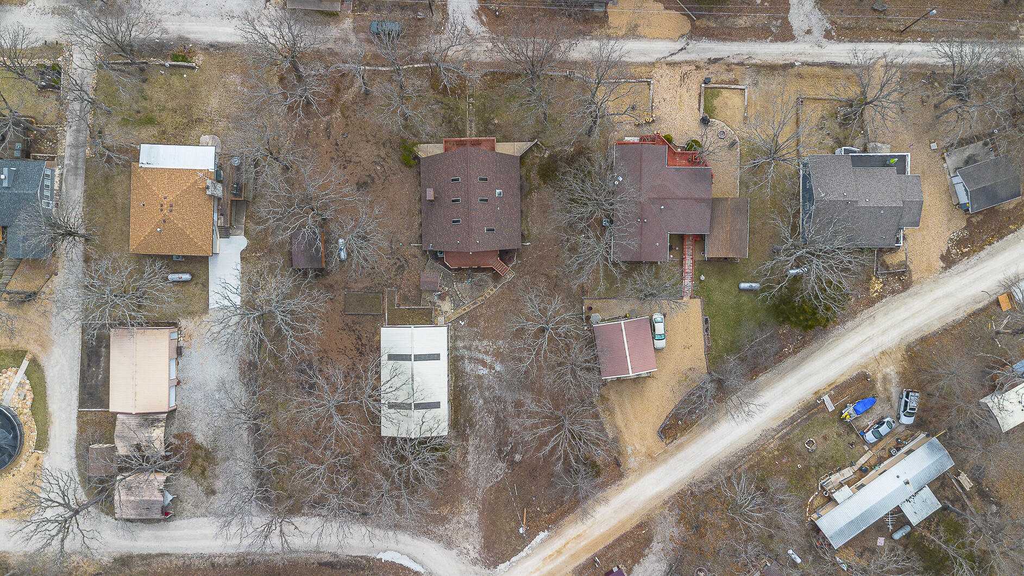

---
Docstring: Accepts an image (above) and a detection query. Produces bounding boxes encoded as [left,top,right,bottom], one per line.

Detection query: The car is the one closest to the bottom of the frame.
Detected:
[861,415,897,445]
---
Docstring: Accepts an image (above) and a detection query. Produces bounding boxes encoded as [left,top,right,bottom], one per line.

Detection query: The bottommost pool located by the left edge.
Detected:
[0,402,29,468]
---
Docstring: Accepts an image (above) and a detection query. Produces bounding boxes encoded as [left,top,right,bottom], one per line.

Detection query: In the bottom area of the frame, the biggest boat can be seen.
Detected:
[839,396,878,423]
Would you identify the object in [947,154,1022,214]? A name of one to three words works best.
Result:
shed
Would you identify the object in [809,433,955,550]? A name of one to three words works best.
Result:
house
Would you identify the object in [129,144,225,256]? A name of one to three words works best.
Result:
house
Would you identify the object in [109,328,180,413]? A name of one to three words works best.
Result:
building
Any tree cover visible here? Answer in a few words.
Yes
